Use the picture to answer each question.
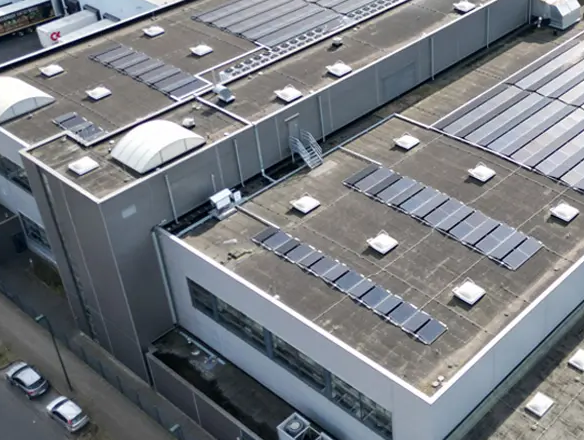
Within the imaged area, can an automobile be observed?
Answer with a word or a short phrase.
Yes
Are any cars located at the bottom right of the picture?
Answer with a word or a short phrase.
No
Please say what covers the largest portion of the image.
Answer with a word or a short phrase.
buildings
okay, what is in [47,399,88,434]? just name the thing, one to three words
car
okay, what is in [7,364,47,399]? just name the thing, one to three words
car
